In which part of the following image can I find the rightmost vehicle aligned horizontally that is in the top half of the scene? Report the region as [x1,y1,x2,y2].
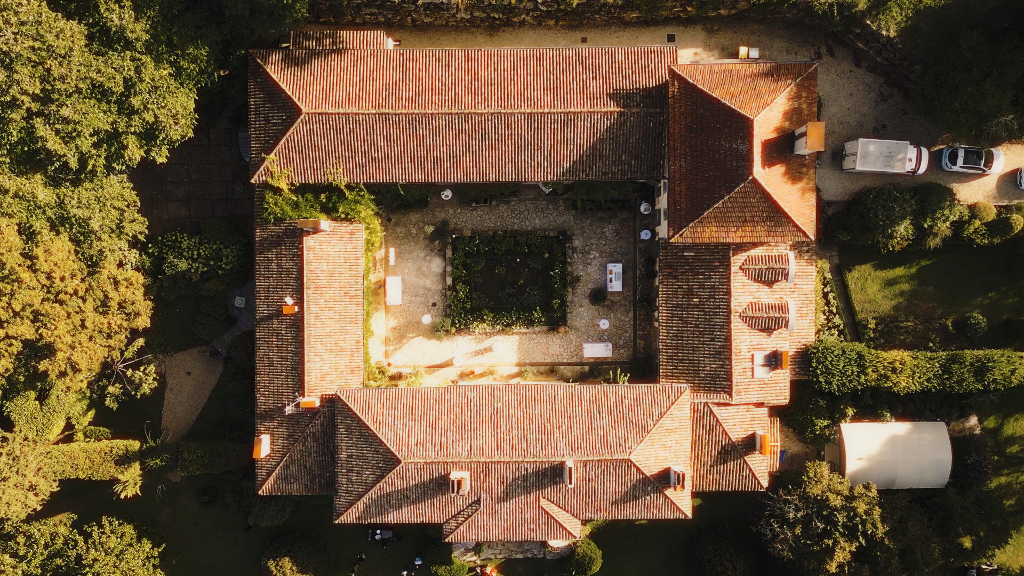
[936,144,1003,176]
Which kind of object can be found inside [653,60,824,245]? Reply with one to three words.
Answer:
house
